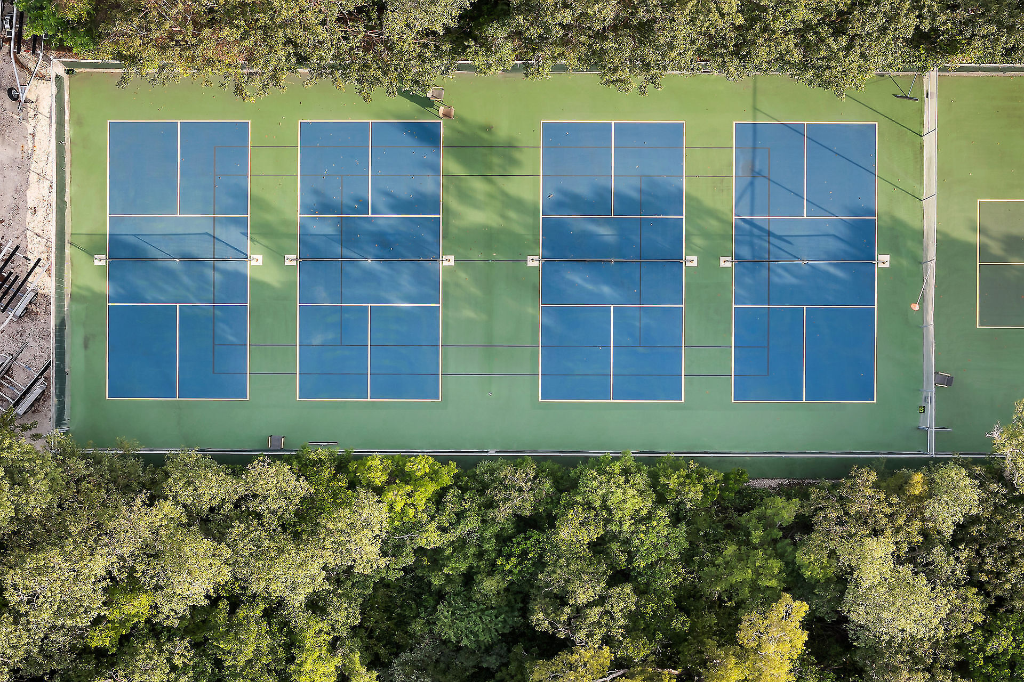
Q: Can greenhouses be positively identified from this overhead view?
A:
No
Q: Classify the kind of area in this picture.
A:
sports ground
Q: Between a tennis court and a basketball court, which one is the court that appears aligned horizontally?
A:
tennis court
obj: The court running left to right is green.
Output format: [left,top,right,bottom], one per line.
[70,71,921,478]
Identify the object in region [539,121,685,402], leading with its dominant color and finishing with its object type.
blue sports court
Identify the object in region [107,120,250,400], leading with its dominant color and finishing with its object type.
blue sports court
